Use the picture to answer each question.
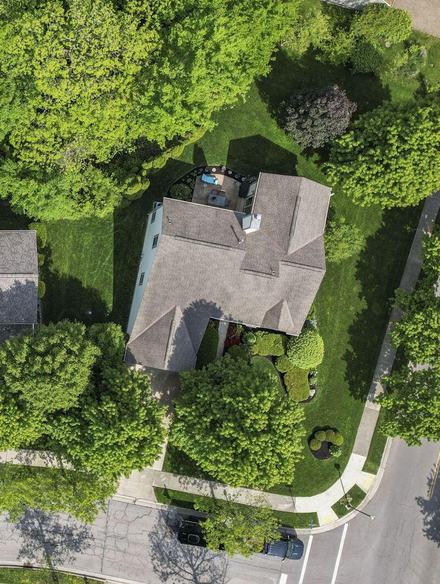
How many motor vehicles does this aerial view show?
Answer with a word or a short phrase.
2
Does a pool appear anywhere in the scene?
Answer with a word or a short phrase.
No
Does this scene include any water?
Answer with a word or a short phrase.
No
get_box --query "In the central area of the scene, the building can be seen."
[122,172,332,373]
